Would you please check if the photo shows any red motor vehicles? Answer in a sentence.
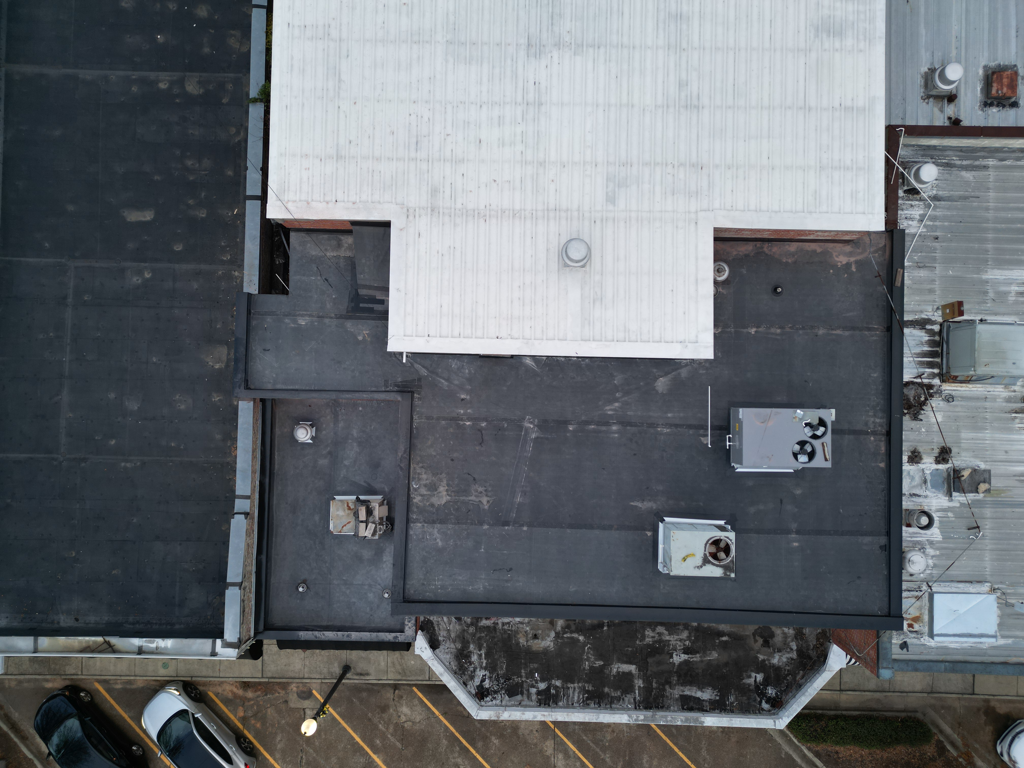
No, there appears to be no red motor vehicle in this shot.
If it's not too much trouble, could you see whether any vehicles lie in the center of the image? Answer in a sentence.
No, no vehicle appears in the center of the image.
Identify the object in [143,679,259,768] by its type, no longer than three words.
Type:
car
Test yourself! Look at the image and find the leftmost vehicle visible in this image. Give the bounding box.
[32,683,151,768]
